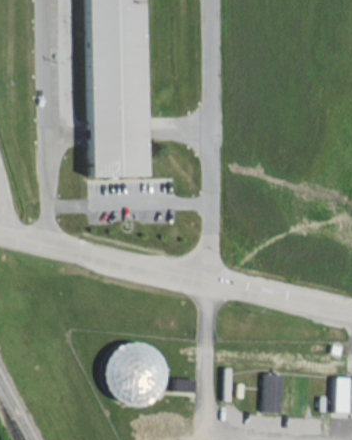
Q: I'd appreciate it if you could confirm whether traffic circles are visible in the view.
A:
No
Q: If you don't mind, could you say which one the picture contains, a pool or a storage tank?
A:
storage tank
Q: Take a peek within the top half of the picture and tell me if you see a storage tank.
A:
No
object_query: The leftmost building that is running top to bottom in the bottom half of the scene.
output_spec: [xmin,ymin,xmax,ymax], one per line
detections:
[222,367,234,402]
